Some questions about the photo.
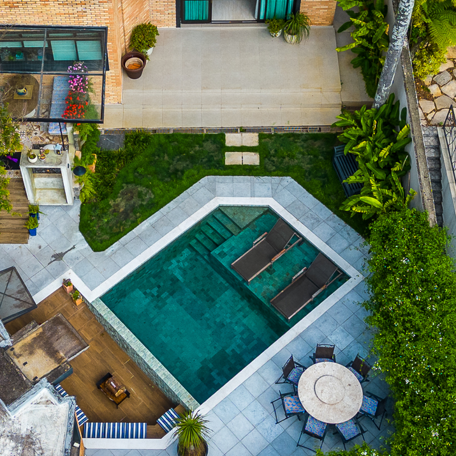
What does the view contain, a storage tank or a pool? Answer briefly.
pool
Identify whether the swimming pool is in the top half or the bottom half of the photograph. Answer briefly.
bottom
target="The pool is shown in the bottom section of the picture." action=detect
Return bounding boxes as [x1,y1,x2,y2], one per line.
[28,196,366,450]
